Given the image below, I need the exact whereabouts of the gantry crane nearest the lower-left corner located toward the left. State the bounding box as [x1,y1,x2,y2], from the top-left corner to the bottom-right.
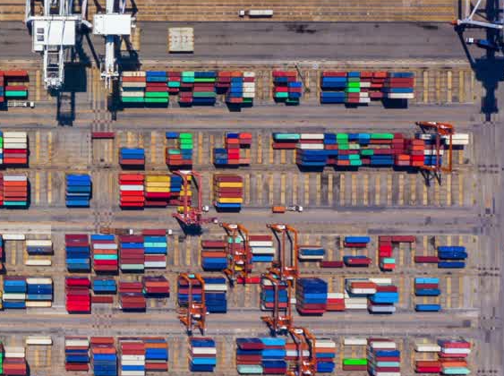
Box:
[174,267,206,326]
